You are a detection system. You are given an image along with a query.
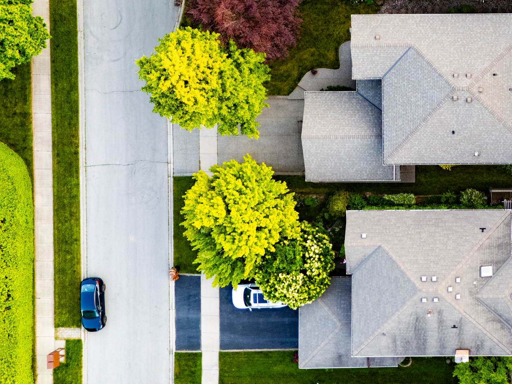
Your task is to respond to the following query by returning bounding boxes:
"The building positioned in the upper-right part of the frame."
[302,12,512,183]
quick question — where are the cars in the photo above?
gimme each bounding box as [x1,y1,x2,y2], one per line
[233,283,289,311]
[79,275,110,329]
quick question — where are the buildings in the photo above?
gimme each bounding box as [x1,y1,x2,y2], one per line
[298,205,512,370]
[302,12,512,183]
